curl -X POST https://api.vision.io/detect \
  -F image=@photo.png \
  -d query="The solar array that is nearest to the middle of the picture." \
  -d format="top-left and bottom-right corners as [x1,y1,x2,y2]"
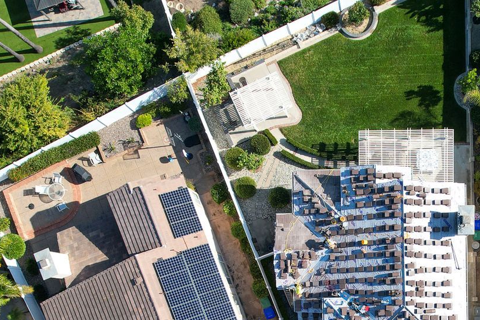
[159,188,202,238]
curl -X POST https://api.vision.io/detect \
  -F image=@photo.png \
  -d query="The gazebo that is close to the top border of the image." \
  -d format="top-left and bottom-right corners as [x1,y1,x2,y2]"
[34,0,92,23]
